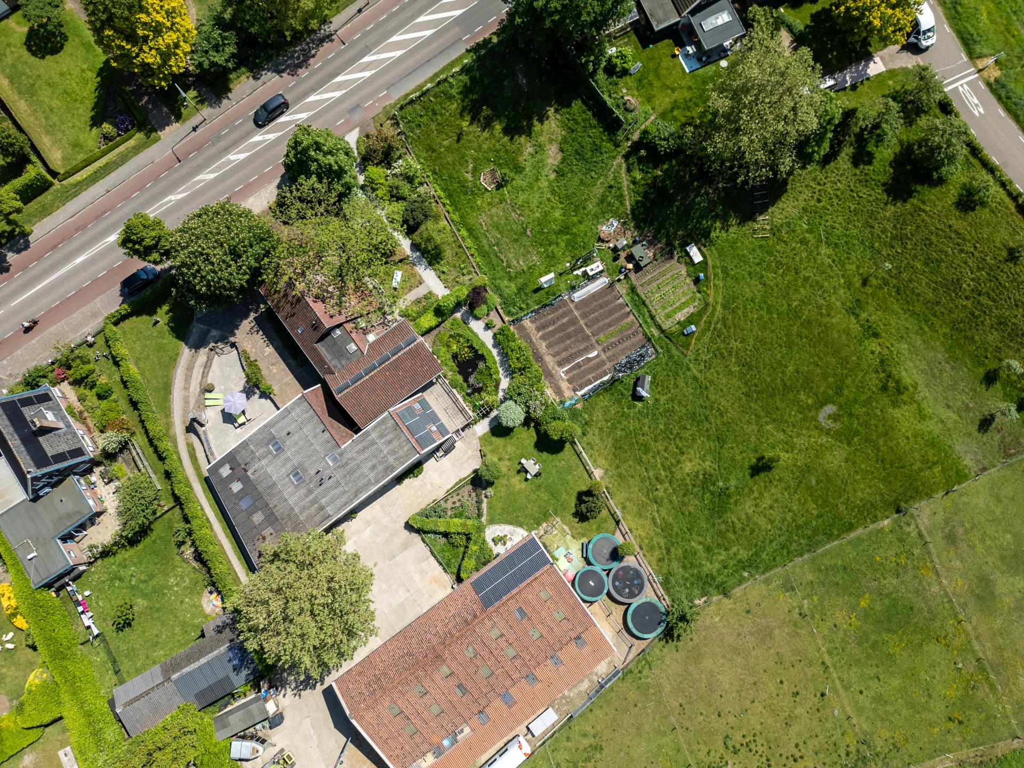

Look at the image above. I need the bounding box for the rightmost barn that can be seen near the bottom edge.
[331,532,617,768]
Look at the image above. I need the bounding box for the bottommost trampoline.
[625,596,667,639]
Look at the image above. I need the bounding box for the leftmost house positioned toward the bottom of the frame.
[0,387,108,589]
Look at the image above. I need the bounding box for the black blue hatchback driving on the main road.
[253,96,289,125]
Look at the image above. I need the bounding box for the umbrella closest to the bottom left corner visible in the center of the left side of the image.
[225,392,249,416]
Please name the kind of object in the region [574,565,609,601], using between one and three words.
trampoline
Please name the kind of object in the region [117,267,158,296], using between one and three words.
car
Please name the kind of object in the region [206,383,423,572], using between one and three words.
building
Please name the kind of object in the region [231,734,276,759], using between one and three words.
trailer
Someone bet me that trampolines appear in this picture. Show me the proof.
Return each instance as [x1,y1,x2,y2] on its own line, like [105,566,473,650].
[608,561,649,604]
[625,596,667,639]
[587,533,622,569]
[574,565,609,601]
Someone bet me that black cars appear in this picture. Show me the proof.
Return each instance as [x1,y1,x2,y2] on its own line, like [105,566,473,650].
[253,96,289,125]
[117,267,158,296]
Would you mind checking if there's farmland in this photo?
Yes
